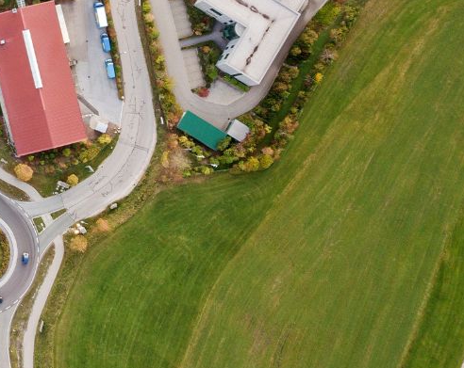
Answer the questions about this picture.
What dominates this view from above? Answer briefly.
grass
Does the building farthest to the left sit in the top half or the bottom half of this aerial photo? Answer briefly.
top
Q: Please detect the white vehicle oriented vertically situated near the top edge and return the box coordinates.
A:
[96,0,109,25]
